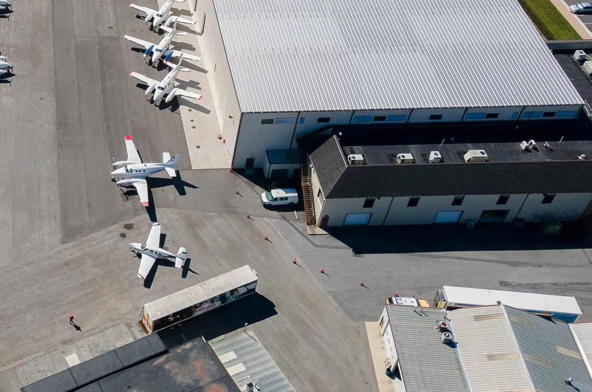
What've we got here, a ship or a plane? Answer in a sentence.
Of the two, only a plane appears.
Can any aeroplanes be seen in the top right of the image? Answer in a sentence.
No, in the top right of the image there is no aeroplane.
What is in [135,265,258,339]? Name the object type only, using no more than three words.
trailer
